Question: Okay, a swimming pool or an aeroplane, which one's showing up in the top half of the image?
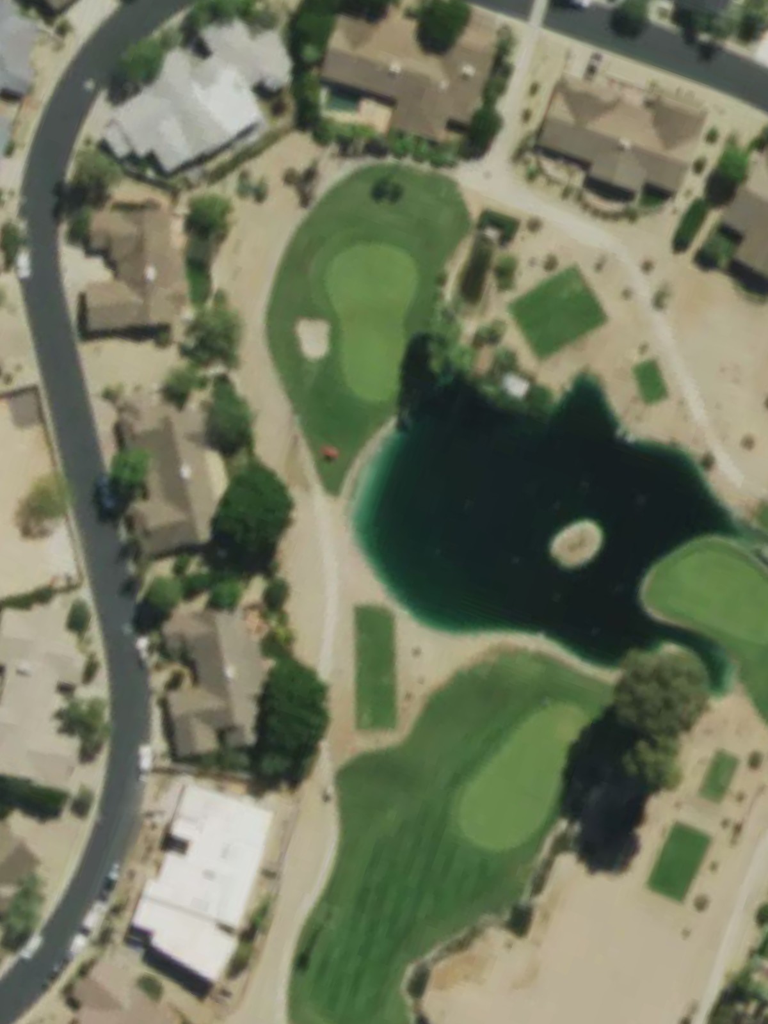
swimming pool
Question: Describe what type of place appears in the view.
residential area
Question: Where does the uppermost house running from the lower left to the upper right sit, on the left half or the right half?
left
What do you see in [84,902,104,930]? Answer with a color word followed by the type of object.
white vehicle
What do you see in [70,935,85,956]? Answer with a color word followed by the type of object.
white car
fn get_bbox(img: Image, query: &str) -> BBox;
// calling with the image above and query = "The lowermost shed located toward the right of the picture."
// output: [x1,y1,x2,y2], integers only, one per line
[502,373,530,401]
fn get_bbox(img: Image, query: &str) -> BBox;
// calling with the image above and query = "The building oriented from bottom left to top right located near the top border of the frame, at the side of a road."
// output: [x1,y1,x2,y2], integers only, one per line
[106,16,293,170]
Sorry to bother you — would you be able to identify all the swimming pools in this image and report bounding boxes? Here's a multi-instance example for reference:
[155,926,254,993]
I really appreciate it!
[325,85,364,112]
